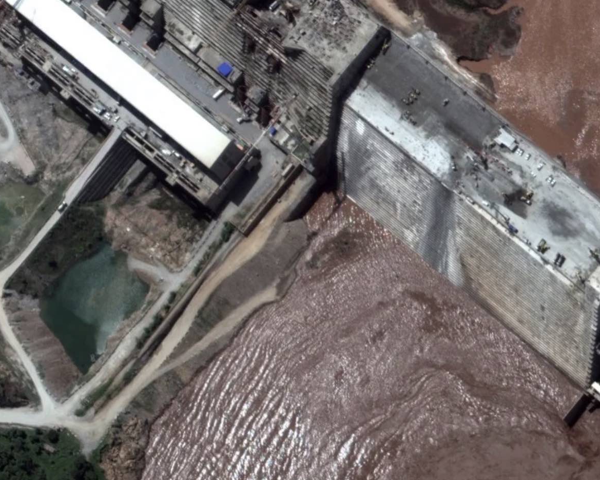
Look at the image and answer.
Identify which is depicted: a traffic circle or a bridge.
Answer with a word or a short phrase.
bridge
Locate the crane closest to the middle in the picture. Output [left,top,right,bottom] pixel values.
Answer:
[217,93,303,192]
